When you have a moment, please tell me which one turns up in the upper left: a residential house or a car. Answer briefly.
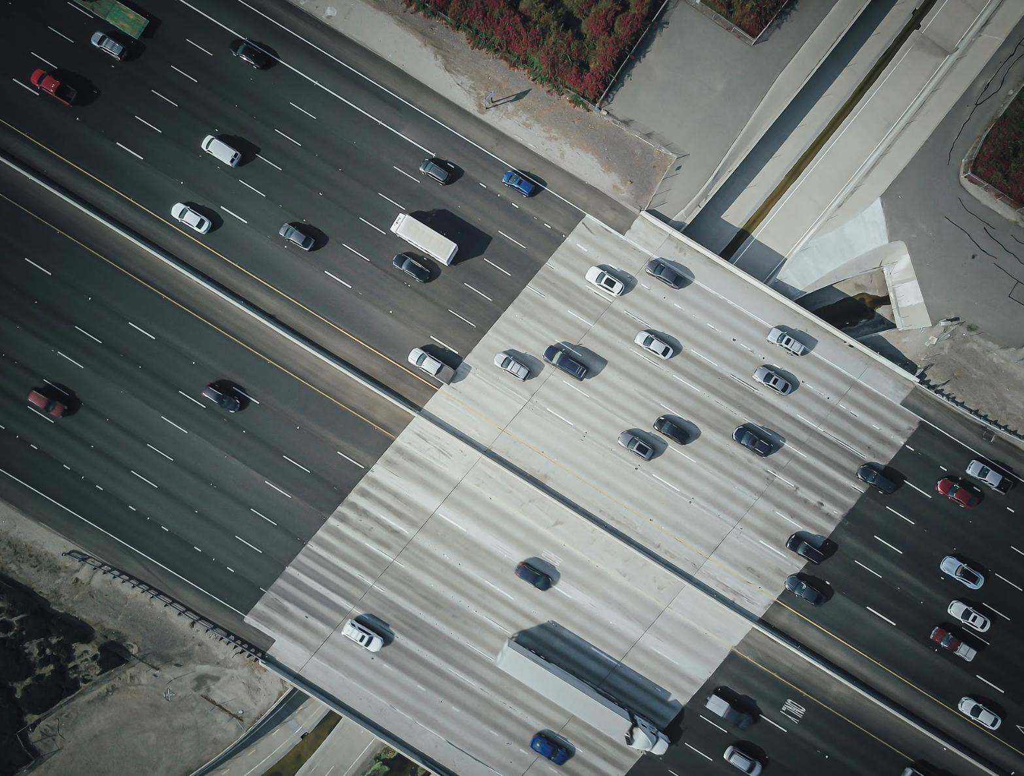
car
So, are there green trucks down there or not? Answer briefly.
Yes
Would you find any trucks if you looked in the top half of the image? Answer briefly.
Yes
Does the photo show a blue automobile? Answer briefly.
Yes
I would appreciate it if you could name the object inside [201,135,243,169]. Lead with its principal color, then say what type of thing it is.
white vehicle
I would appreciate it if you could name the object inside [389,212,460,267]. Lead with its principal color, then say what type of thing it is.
white truck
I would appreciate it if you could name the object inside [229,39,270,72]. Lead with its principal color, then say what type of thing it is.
black car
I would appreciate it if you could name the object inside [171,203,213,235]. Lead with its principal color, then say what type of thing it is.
white car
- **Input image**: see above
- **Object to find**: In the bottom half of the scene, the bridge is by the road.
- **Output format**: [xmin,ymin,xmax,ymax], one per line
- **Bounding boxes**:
[245,212,921,776]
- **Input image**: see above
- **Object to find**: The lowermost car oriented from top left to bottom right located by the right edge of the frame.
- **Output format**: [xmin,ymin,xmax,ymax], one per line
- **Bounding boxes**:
[956,696,1000,729]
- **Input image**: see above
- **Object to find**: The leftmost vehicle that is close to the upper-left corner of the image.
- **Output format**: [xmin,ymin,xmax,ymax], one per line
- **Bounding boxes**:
[29,66,80,106]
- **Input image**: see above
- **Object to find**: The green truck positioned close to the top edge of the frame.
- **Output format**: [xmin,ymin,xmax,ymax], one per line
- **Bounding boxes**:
[74,0,150,40]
